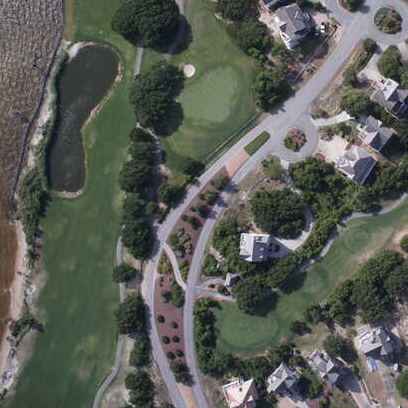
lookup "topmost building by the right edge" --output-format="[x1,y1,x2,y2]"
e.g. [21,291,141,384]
[369,74,408,122]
